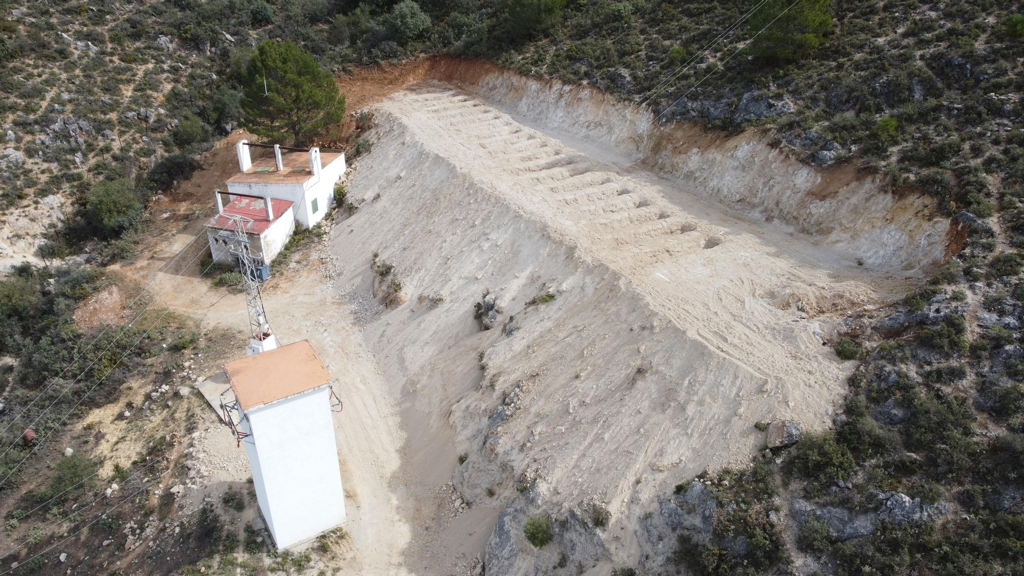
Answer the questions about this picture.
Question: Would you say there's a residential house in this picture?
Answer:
Yes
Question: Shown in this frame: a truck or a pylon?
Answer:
pylon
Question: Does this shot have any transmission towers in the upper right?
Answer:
No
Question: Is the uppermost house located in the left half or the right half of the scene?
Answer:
left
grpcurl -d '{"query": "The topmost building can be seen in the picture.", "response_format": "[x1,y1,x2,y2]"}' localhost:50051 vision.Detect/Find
[226,146,347,224]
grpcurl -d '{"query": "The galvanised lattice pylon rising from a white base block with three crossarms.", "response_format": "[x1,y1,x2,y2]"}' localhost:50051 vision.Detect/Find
[210,219,274,359]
